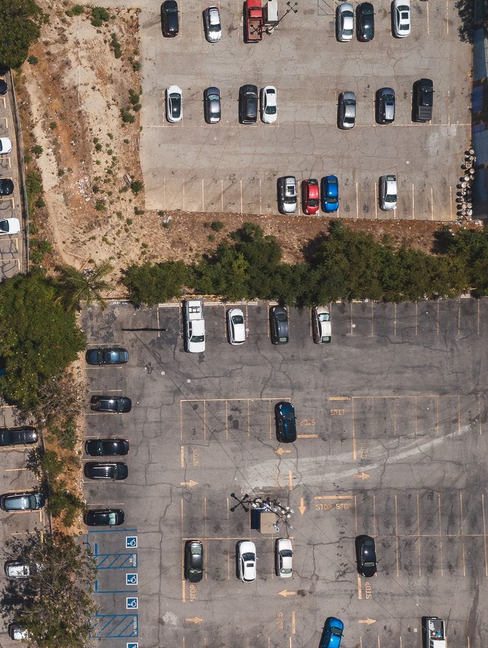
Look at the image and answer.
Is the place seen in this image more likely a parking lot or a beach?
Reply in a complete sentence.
What you see here is a parking lot.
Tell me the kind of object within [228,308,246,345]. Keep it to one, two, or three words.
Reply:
car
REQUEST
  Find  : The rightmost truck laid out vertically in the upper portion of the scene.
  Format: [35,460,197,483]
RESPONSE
[413,79,435,124]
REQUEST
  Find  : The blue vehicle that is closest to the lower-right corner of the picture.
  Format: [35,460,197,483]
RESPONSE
[320,617,343,648]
